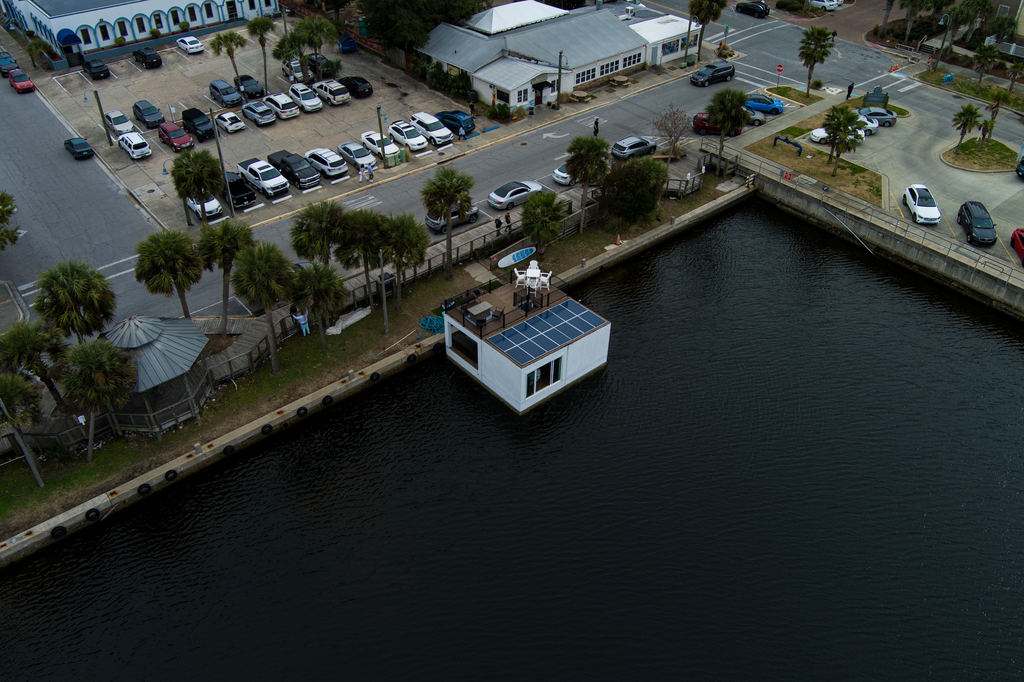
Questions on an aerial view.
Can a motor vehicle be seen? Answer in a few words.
Yes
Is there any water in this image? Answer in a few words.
Yes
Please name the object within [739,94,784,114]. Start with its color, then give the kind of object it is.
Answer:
blue car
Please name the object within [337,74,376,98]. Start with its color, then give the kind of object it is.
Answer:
black car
